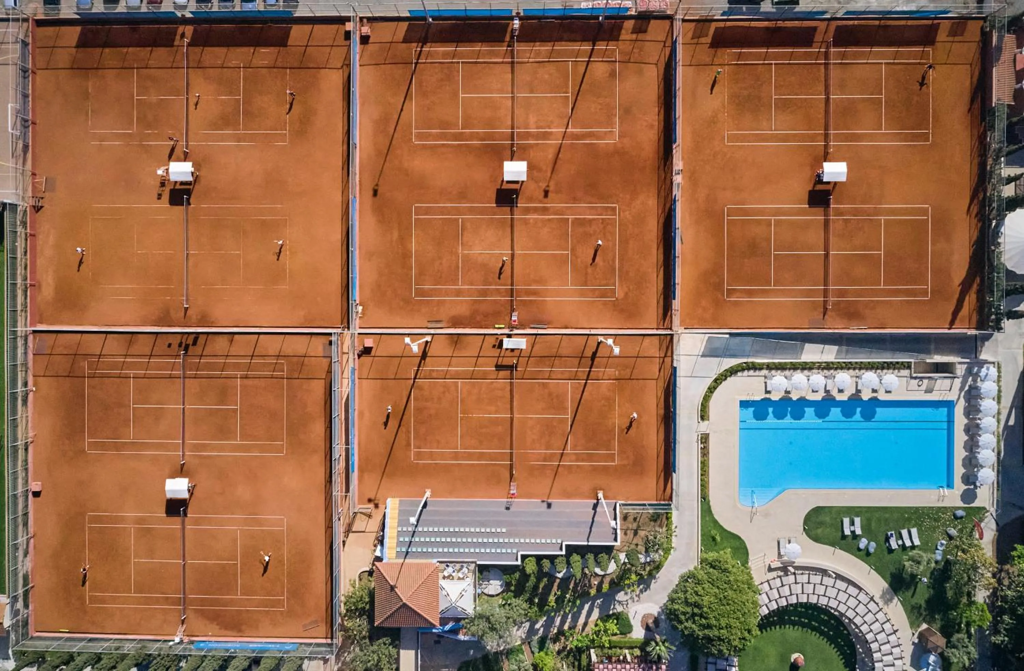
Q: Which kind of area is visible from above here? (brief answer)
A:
sports ground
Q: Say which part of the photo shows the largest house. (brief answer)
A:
bottom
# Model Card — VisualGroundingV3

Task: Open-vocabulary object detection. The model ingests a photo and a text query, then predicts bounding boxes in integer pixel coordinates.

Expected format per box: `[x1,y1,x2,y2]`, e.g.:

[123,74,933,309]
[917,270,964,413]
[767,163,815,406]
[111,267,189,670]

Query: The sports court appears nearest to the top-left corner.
[0,20,28,199]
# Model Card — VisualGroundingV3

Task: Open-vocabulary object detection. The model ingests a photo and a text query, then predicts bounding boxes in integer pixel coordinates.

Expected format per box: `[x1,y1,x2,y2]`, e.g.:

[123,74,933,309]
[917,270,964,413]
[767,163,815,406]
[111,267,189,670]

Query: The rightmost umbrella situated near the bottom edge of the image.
[916,651,939,671]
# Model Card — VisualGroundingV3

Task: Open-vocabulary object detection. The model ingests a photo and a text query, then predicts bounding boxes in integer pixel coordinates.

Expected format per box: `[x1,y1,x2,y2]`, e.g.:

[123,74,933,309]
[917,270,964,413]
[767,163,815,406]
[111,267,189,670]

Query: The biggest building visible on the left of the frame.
[374,558,440,627]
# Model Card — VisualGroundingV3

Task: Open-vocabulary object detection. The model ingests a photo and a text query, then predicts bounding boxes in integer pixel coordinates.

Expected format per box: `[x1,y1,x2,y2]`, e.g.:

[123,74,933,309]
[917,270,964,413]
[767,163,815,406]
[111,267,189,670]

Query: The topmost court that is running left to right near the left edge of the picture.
[37,20,354,175]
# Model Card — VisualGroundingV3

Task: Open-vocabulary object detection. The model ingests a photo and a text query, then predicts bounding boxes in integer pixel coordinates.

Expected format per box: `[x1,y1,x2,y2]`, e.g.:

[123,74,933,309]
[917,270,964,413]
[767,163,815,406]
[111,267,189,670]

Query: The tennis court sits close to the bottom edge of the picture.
[34,486,336,639]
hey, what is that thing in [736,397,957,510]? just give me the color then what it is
blue swimming pool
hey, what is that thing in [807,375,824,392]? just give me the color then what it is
white umbrella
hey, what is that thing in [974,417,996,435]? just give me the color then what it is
white umbrella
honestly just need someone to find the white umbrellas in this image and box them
[878,373,897,389]
[972,449,992,466]
[832,373,850,389]
[784,541,801,558]
[807,375,824,392]
[770,375,788,392]
[971,469,993,486]
[974,399,997,417]
[975,365,996,382]
[790,372,808,390]
[860,373,877,390]
[974,434,994,450]
[974,417,996,435]
[975,381,995,397]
